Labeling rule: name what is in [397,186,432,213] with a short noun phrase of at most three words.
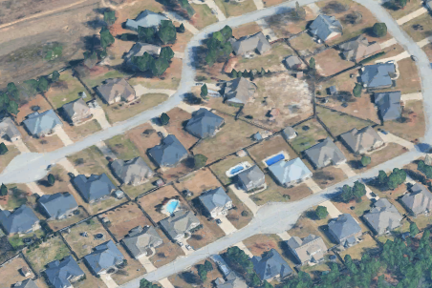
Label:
house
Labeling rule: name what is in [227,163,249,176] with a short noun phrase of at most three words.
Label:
swimming pool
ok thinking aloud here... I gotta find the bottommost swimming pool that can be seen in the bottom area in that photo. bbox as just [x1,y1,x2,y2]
[163,197,185,212]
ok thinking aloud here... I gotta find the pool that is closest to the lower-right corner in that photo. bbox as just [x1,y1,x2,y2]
[263,151,288,166]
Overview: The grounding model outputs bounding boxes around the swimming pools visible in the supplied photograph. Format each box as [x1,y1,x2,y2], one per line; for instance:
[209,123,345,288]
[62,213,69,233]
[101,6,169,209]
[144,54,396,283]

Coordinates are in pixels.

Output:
[263,151,288,166]
[227,163,249,176]
[163,197,185,212]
